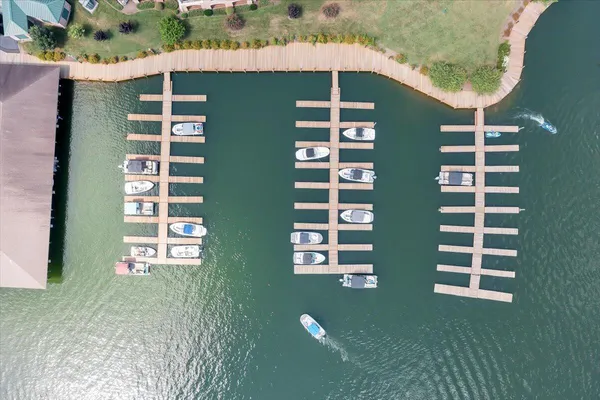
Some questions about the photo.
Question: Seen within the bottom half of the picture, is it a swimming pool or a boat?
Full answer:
Visible within the bottom half of the picture is a boat.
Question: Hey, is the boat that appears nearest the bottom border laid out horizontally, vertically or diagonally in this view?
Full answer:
I'd say the boat that appears nearest the bottom border is aligned diagonally in the picture.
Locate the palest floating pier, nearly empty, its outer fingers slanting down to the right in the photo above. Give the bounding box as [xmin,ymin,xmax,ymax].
[434,108,519,302]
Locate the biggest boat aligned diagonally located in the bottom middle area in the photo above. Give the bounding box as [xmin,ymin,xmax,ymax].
[302,314,326,342]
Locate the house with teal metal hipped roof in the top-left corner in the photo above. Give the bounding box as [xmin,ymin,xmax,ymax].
[3,0,77,42]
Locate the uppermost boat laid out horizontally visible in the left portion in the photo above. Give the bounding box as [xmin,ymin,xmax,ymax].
[172,122,204,135]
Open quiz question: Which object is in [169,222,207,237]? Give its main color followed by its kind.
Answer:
white boat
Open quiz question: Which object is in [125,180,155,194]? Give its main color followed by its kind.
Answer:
white boat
